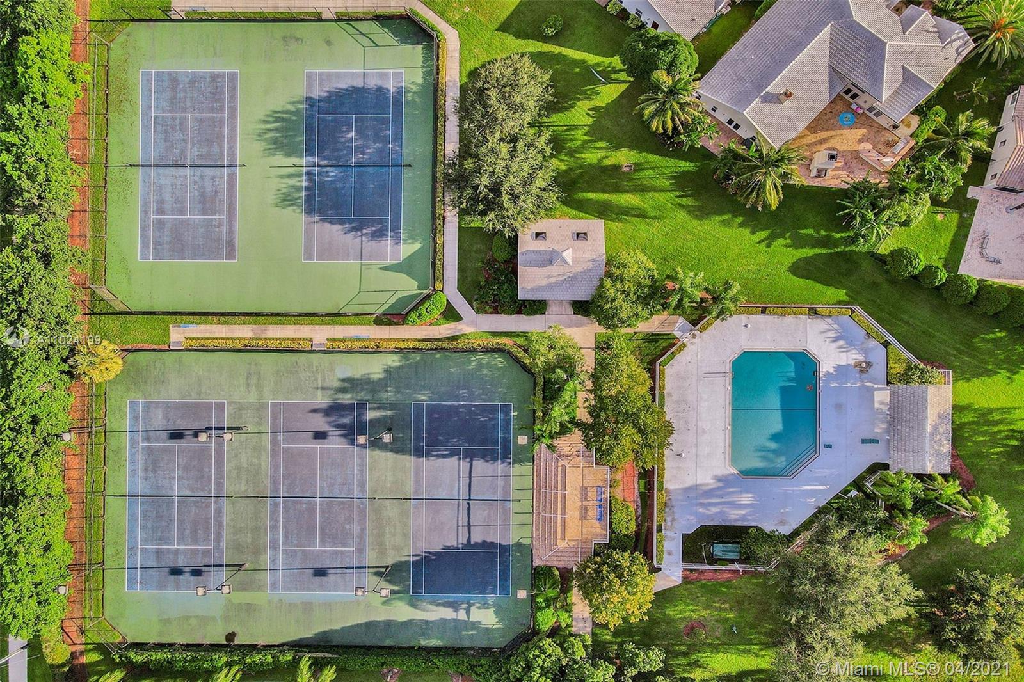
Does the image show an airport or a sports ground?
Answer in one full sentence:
This looks like a sports ground.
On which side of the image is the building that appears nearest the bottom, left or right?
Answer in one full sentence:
The building that appears nearest the bottom is on the right side of the image.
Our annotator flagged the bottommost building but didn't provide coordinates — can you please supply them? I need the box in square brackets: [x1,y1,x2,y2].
[882,384,954,475]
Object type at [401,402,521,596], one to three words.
tennis court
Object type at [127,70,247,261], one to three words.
tennis court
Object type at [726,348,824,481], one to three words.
swimming pool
